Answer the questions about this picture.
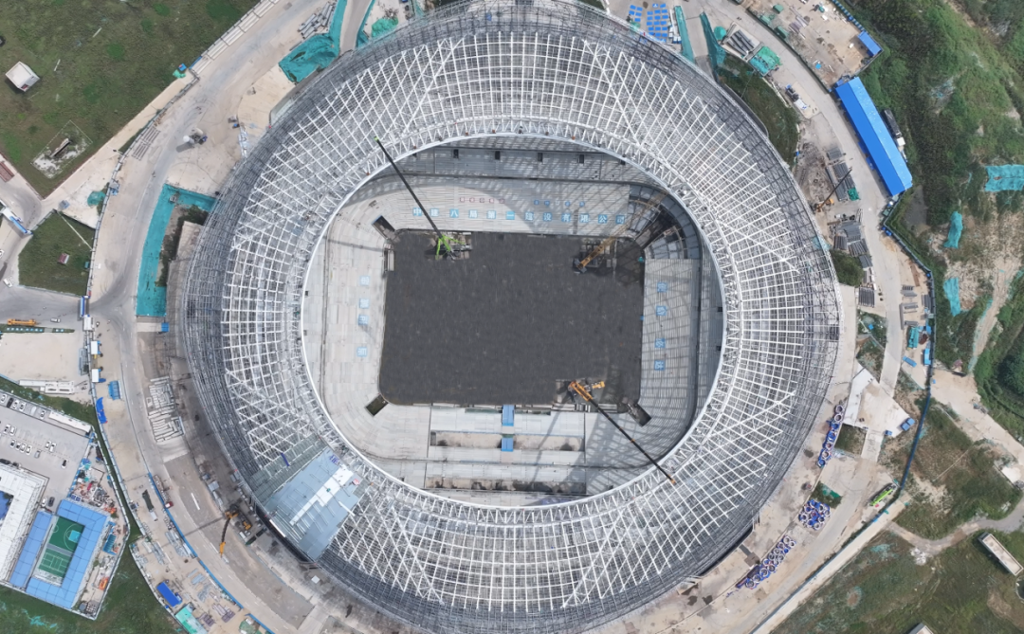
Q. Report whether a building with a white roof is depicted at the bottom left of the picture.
Yes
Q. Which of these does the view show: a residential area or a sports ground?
sports ground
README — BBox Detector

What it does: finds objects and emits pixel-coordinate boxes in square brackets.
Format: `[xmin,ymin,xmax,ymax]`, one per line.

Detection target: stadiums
[178,0,849,634]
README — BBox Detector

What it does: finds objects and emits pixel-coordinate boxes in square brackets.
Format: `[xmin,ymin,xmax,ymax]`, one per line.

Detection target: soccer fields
[380,227,646,411]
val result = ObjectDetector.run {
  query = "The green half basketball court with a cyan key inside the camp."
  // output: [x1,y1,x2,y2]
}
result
[49,517,83,552]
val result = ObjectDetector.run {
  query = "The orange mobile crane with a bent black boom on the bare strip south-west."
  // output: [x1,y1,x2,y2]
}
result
[217,506,253,559]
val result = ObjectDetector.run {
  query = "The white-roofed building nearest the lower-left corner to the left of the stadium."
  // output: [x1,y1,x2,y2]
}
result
[0,455,56,580]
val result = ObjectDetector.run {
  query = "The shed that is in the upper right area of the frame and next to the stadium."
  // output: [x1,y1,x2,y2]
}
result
[830,73,914,200]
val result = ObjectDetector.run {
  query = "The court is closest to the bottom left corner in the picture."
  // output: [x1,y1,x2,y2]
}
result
[39,549,72,579]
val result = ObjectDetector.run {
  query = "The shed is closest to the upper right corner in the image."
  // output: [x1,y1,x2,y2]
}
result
[855,31,881,58]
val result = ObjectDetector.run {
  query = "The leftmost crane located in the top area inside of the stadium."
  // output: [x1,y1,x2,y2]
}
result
[376,139,470,262]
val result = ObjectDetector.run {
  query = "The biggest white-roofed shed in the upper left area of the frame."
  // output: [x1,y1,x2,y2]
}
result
[7,62,42,95]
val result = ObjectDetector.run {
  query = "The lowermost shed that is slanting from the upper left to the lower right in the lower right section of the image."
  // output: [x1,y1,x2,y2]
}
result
[977,531,1023,575]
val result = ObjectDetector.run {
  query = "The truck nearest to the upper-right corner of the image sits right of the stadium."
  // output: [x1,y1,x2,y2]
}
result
[884,109,906,145]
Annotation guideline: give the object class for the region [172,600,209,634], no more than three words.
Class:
shed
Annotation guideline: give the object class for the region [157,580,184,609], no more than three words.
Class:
shed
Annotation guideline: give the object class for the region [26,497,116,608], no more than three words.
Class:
building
